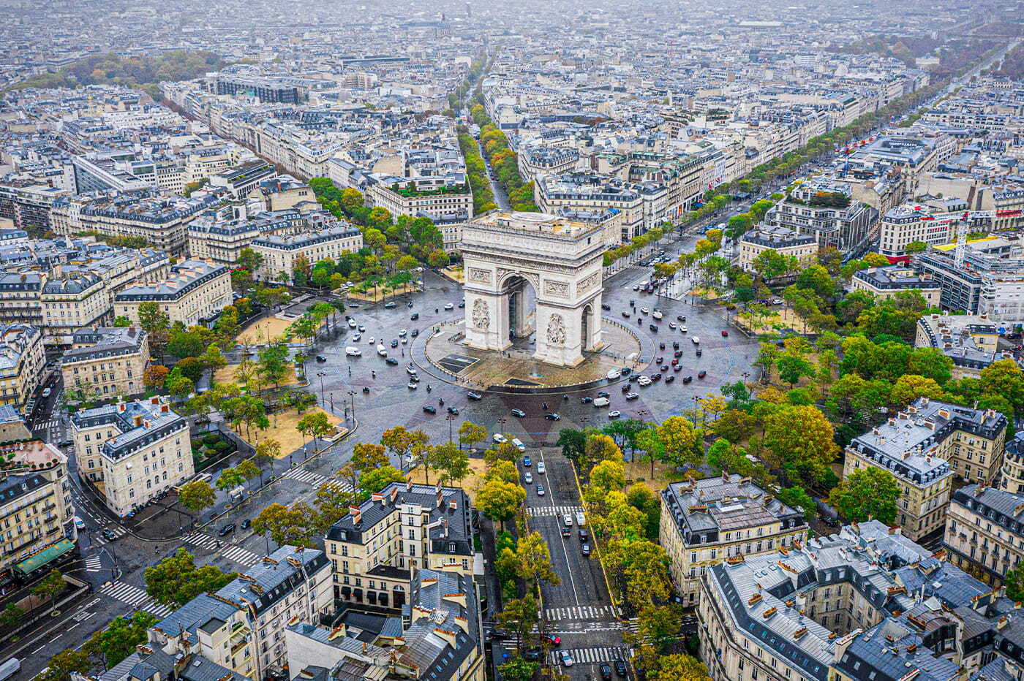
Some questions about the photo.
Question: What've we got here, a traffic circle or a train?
traffic circle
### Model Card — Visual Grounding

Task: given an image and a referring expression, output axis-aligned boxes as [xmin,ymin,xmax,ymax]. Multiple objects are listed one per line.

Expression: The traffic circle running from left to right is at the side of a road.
[255,275,807,473]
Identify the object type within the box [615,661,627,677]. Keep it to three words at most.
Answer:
vehicle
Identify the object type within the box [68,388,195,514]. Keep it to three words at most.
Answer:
house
